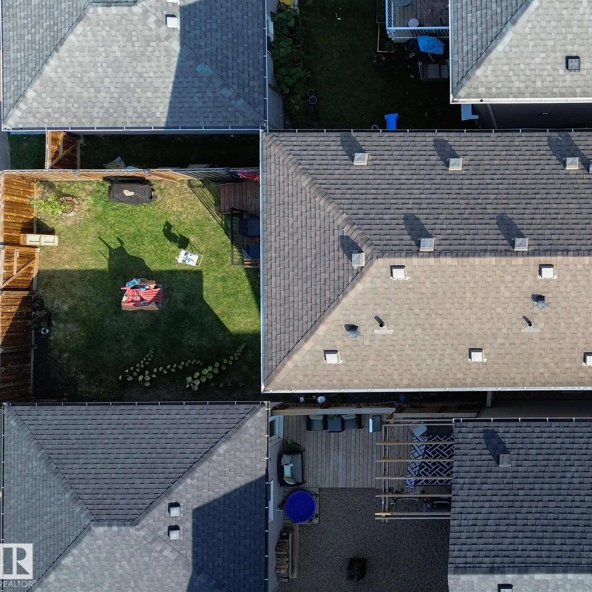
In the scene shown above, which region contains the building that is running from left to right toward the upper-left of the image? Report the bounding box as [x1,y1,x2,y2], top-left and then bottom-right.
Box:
[2,0,285,134]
